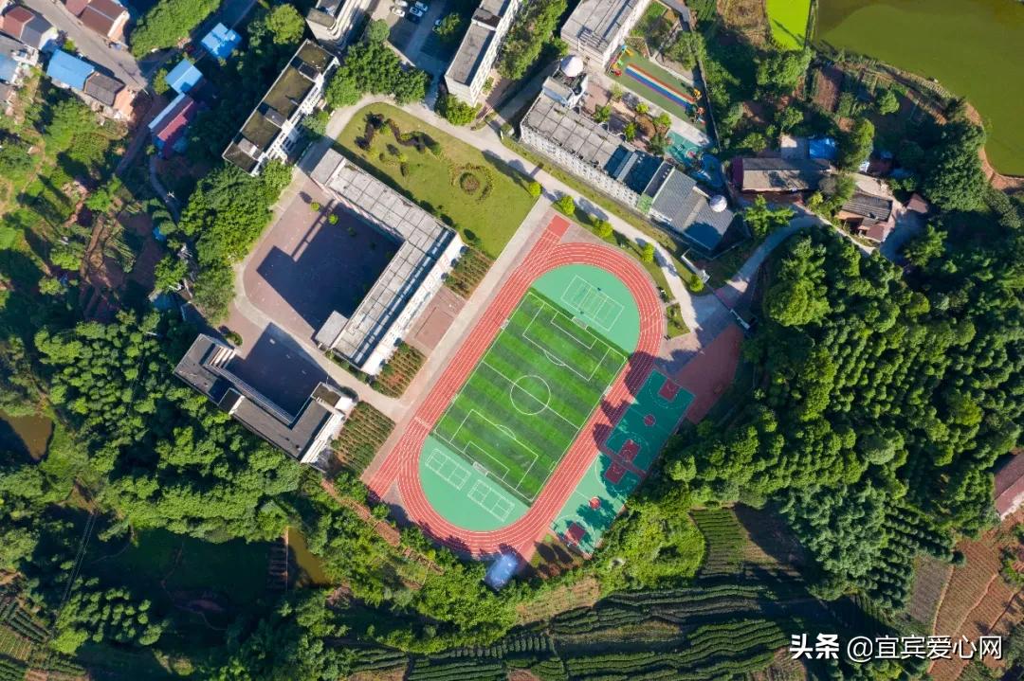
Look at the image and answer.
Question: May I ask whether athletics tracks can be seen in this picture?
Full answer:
Yes, looking at the shot, I can spot an athletics track.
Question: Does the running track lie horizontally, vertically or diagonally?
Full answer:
The running track is laid out diagonally.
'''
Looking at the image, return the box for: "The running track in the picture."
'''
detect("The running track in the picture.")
[366,215,661,563]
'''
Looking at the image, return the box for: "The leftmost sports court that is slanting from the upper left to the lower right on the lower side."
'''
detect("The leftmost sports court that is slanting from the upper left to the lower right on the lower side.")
[424,448,472,490]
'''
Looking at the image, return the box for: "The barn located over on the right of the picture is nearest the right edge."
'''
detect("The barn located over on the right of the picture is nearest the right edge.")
[992,453,1024,514]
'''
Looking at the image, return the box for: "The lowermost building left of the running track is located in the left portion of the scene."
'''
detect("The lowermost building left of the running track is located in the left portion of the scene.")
[172,334,360,462]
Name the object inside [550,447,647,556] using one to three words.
basketball court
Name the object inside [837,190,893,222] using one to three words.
house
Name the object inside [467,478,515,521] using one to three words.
sports court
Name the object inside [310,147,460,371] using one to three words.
building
